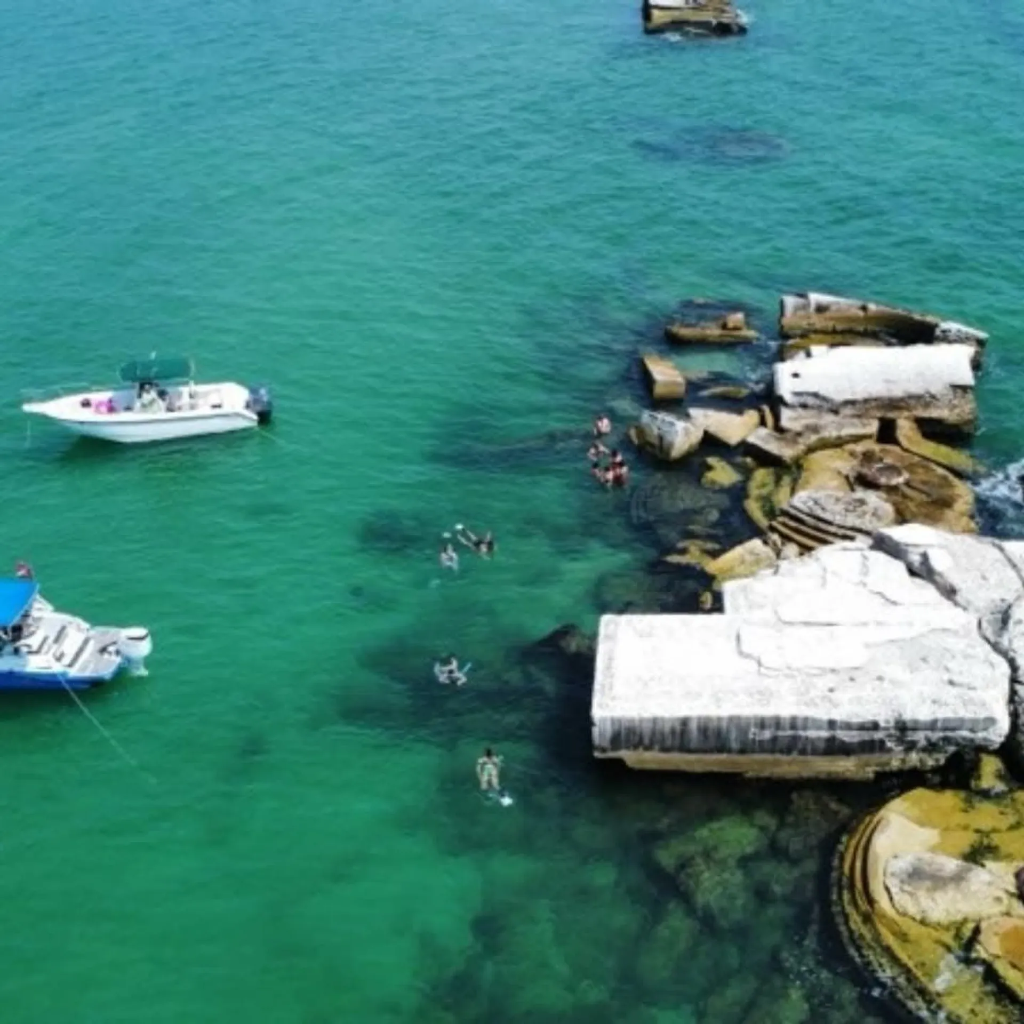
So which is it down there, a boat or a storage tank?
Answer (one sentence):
I can see a boat in this picture.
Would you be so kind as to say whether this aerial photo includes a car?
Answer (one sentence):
No, there isn't any car down there.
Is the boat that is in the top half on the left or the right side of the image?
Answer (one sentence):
The boat that is in the top half sits on the left side.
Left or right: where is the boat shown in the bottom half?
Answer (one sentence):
The boat shown in the bottom half sits on the left side.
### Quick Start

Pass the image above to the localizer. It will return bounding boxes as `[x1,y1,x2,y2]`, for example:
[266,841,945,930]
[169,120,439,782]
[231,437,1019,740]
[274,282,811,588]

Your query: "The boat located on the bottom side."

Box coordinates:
[0,580,165,695]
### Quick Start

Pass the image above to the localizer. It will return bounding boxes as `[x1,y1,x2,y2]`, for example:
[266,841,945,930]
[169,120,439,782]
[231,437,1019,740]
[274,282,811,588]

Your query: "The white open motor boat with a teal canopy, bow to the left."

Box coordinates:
[20,348,284,445]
